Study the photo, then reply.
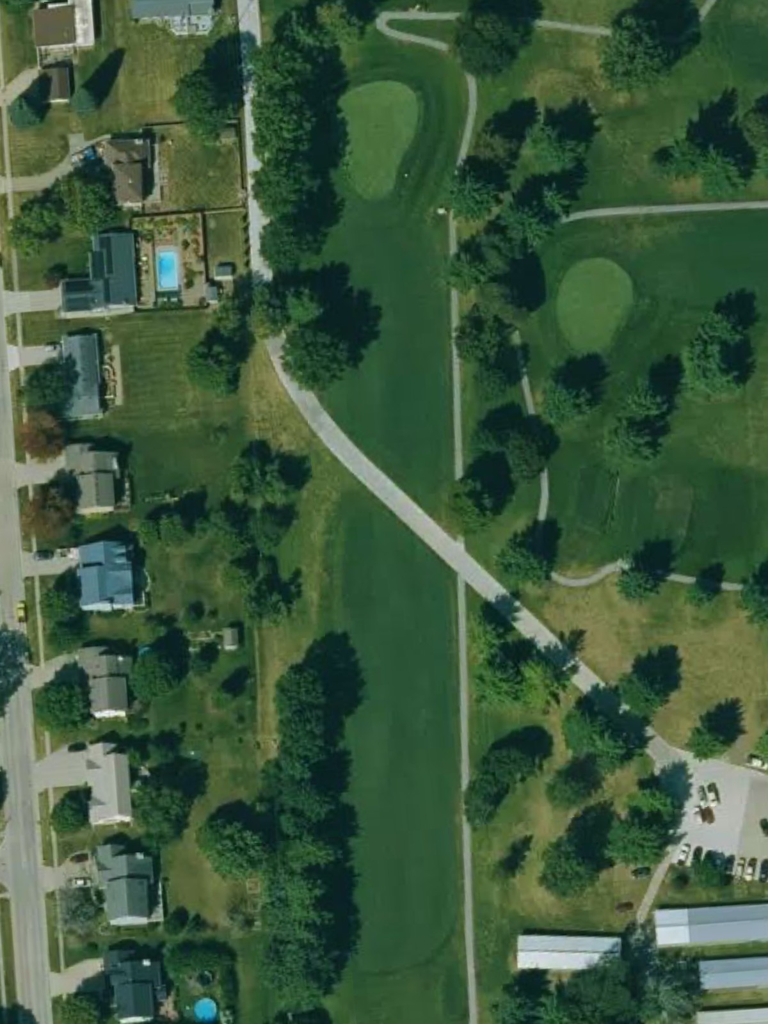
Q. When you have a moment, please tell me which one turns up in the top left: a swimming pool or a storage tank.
swimming pool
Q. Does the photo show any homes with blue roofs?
Yes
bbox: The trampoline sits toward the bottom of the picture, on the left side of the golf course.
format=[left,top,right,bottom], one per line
[197,968,214,985]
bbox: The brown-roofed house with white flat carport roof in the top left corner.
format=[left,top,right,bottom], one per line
[34,0,94,49]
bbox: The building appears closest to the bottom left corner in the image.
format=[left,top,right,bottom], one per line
[104,949,167,1021]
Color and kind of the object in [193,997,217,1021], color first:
blue swimming pool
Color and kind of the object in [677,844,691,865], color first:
white car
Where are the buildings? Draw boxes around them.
[131,0,213,36]
[224,627,238,650]
[699,953,768,990]
[654,900,768,946]
[517,934,621,971]
[96,843,164,923]
[87,740,132,824]
[49,65,70,104]
[34,0,94,49]
[107,138,151,210]
[216,263,232,279]
[104,949,167,1021]
[62,230,137,316]
[221,124,236,140]
[78,540,147,610]
[208,285,218,304]
[77,644,132,716]
[63,332,101,420]
[66,442,130,514]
